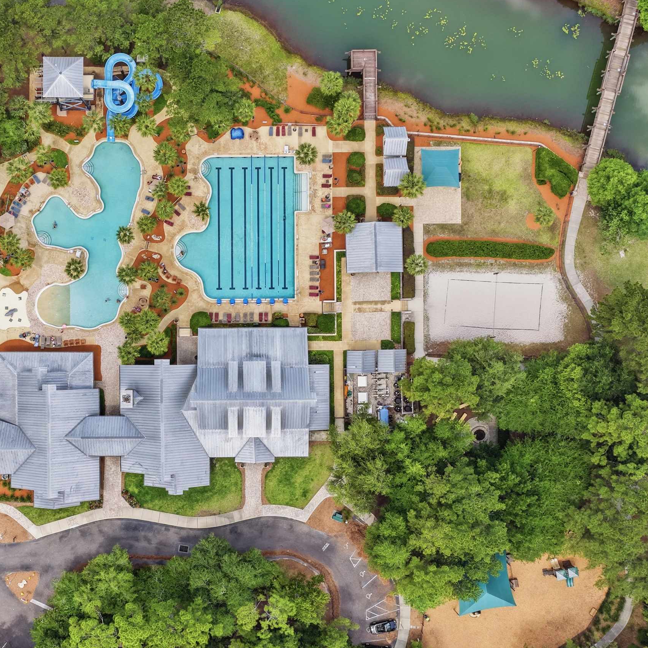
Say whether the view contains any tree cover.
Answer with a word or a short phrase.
Yes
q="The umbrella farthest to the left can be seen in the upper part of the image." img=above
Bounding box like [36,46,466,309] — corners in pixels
[0,210,17,232]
